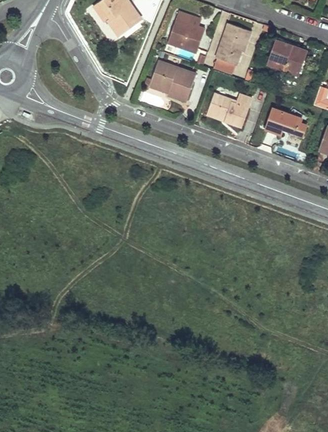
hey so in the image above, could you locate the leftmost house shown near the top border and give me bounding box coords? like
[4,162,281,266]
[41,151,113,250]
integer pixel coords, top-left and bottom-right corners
[94,0,142,36]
